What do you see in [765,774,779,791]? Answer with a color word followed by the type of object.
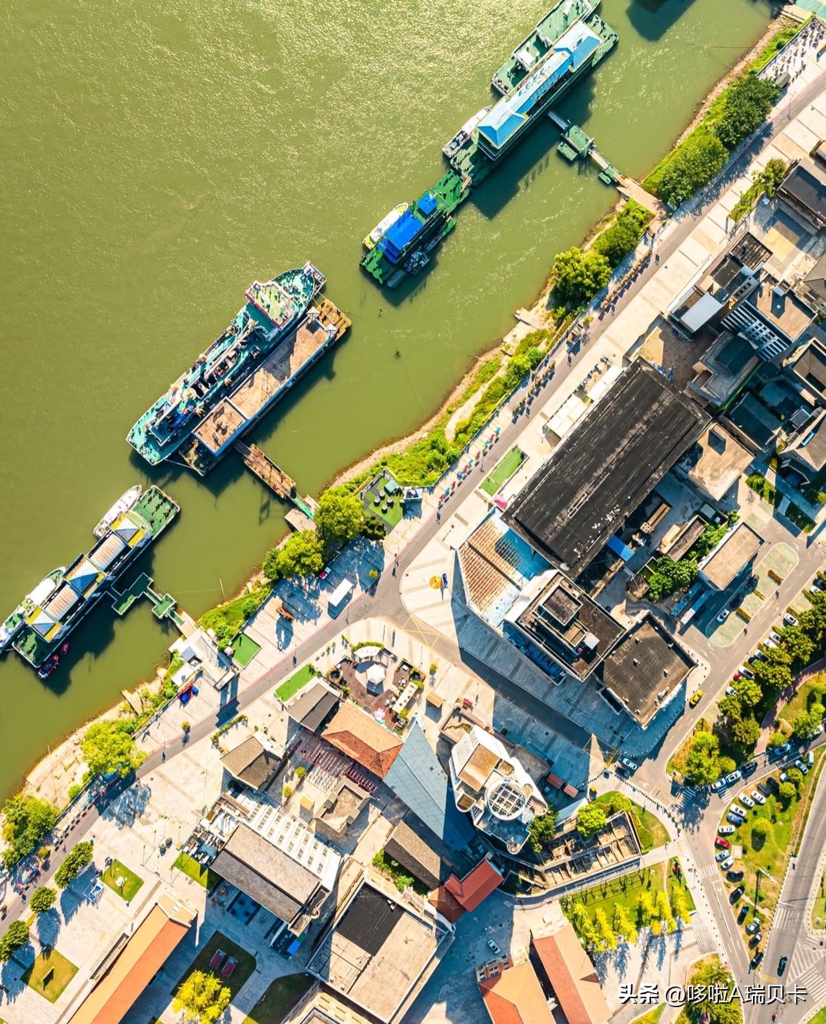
black car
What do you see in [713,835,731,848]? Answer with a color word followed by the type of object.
red vehicle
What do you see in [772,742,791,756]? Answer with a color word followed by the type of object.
blue car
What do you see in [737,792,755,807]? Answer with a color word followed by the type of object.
white car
